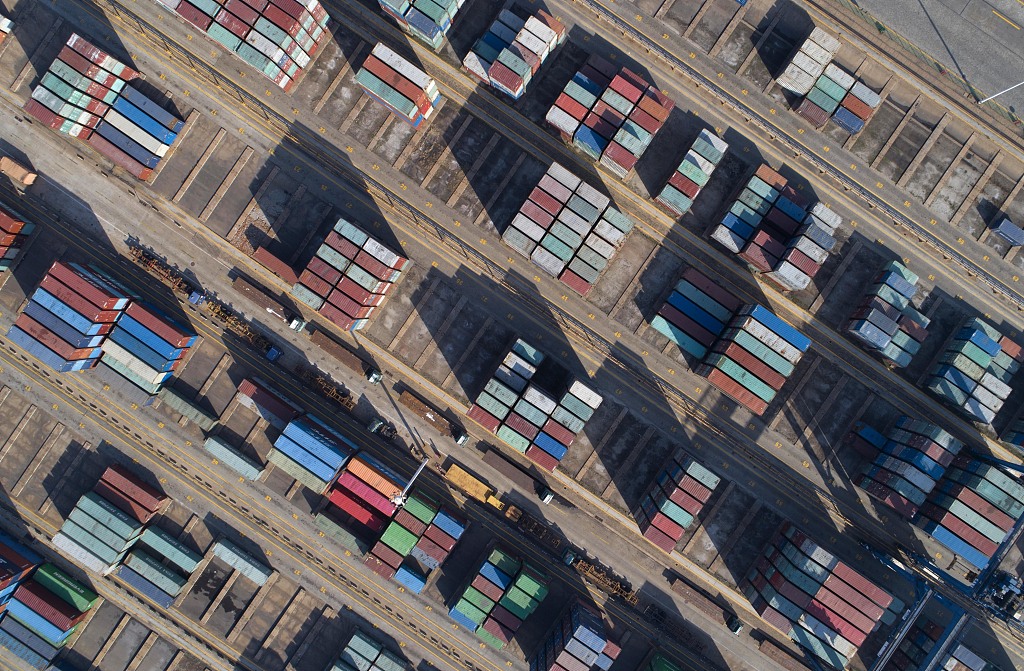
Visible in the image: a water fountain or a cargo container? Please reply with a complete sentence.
Visible in the photo is a cargo container.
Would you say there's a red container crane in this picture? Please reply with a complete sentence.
No, the photo shows no red container crane.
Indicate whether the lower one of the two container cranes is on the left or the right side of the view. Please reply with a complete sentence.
The lower one of the two container cranes appears in the right half of the scene.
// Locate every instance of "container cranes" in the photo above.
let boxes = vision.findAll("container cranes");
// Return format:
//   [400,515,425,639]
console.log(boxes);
[887,440,1024,621]
[789,536,972,671]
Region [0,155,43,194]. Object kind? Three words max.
truck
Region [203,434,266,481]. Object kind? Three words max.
shipping container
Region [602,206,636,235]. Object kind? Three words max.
shipping container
